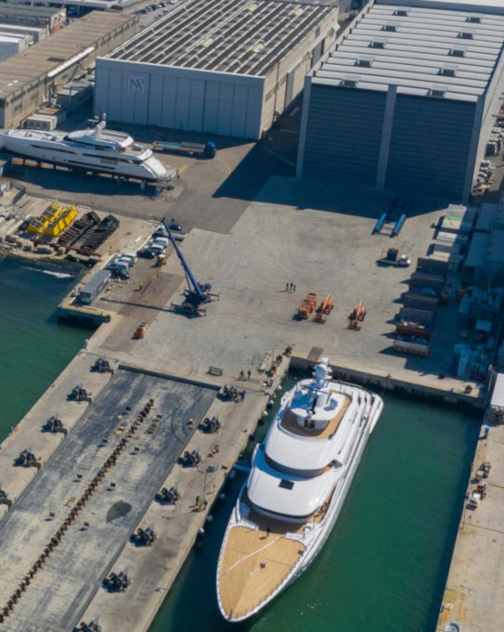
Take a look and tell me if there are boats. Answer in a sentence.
Yes, the photo shows a boat.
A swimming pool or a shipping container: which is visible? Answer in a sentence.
Looking from above, you can make out a shipping container.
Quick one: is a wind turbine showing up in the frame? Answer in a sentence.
No, there's no wind turbine here.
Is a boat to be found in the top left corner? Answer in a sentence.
Yes, I can see a boat in the top left corner.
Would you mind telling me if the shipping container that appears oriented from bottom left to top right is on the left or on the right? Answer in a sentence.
You can find the shipping container that appears oriented from bottom left to top right on the left side of the picture.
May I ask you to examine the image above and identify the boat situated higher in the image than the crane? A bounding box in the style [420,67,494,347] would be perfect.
[0,107,190,195]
